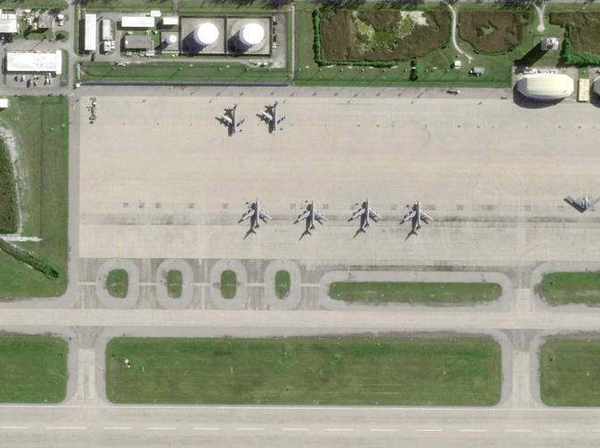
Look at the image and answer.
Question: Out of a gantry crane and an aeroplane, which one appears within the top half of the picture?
aeroplane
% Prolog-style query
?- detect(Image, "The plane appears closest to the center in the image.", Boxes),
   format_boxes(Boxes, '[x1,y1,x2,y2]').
[299,201,326,228]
